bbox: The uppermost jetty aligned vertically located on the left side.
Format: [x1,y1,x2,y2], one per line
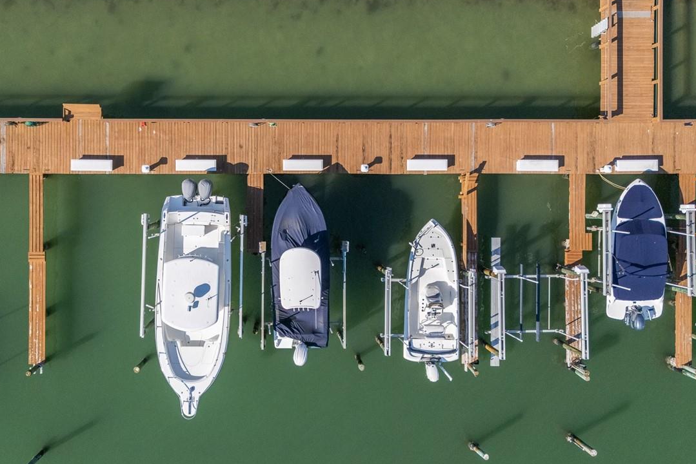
[248,174,265,253]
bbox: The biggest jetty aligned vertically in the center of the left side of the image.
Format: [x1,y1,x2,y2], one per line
[28,174,53,365]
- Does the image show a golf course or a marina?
marina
